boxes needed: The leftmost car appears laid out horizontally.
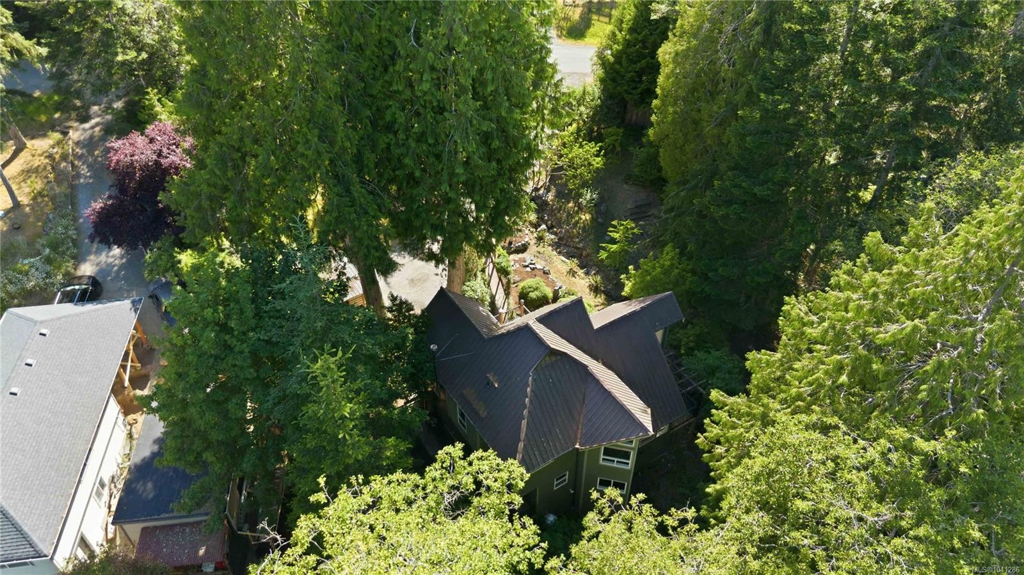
[57,275,119,306]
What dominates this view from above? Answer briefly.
trees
